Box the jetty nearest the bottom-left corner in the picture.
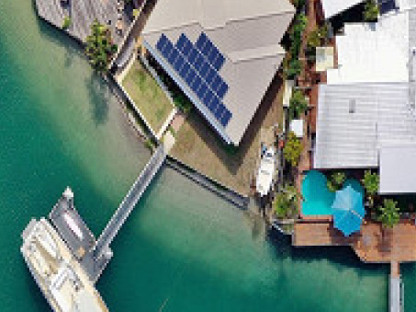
[51,188,114,282]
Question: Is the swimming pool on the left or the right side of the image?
right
